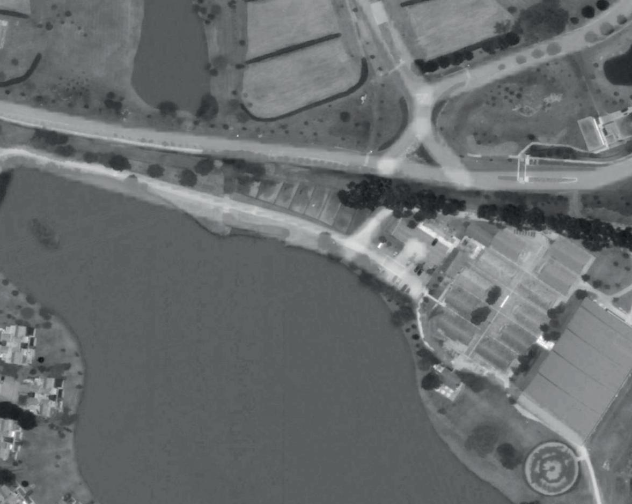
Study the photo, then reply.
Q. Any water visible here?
Yes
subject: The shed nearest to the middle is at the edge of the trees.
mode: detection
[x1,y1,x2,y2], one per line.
[416,221,462,255]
